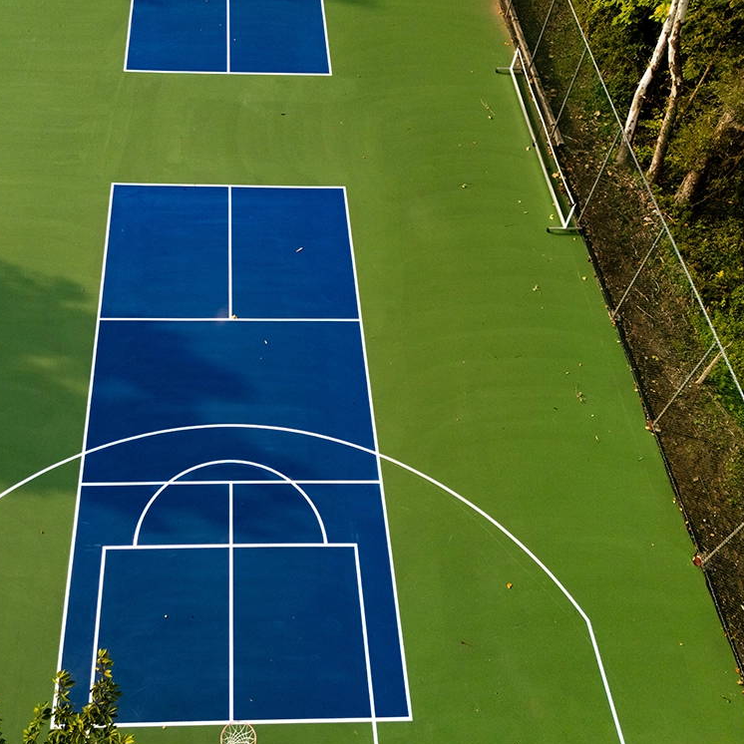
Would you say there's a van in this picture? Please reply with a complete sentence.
No, the photo shows no van.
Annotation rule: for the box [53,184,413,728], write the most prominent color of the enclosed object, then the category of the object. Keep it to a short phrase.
blue sports court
